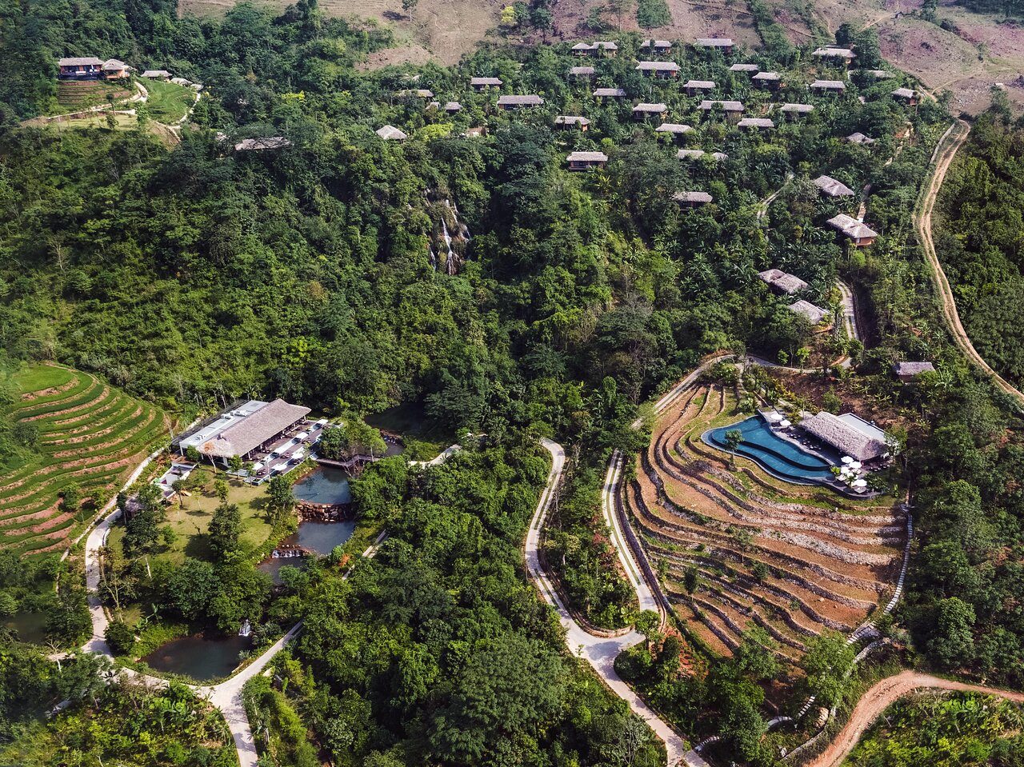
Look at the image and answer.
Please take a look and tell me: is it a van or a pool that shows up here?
pool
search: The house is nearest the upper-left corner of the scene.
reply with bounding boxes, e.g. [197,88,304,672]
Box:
[52,55,108,85]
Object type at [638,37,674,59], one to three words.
house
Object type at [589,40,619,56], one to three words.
house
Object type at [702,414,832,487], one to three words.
swimming pool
